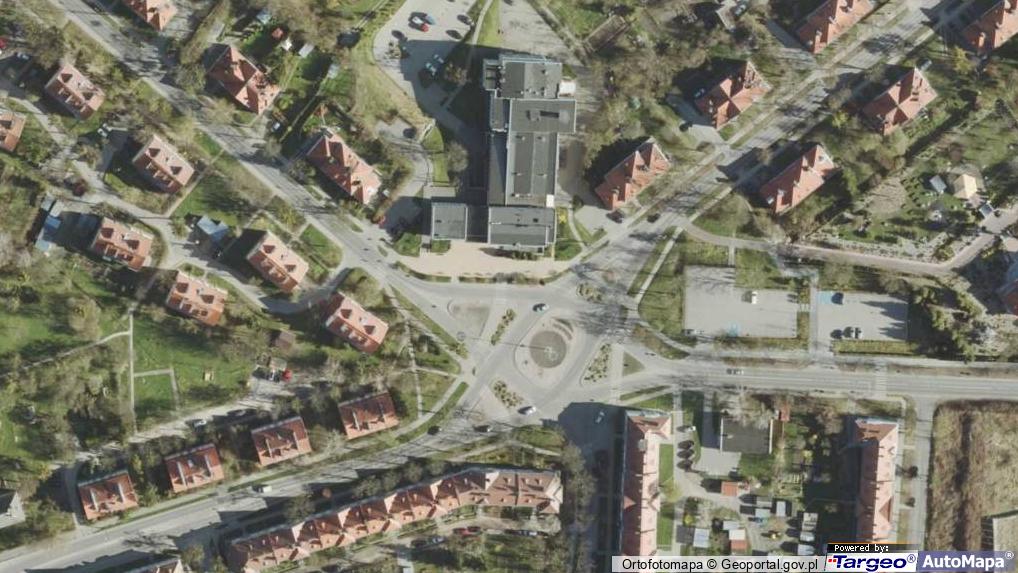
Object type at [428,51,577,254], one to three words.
building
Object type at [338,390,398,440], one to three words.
house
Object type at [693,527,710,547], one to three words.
building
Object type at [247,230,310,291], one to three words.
house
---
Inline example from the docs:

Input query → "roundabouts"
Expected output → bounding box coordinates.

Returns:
[515,310,581,387]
